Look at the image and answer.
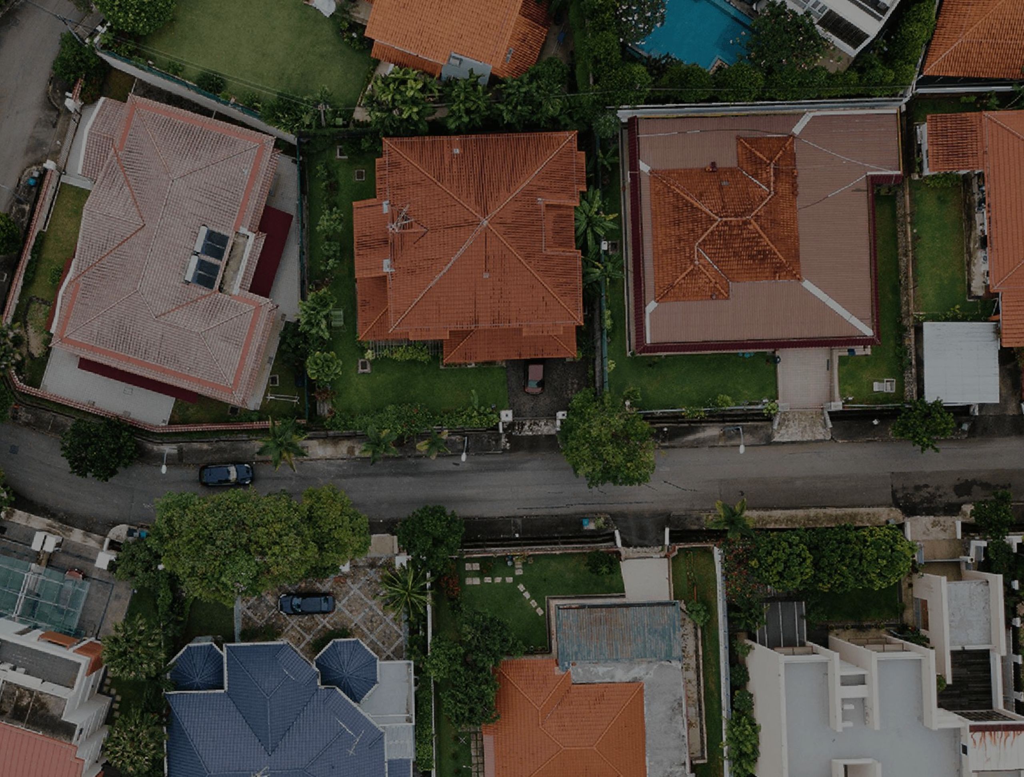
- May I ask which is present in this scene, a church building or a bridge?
bridge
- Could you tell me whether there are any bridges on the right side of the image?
Yes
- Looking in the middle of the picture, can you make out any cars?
Yes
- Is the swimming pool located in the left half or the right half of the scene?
right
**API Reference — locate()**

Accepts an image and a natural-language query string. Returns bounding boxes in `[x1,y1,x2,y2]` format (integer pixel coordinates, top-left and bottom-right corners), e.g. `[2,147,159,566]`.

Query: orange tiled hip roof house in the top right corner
[920,0,1024,87]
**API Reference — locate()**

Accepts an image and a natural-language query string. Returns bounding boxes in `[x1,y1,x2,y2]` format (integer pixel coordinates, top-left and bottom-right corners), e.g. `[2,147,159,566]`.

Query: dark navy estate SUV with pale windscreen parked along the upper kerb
[196,461,256,489]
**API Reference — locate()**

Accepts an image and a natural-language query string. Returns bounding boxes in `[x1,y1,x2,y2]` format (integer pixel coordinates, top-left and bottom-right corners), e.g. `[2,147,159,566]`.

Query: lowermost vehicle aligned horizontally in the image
[278,590,337,619]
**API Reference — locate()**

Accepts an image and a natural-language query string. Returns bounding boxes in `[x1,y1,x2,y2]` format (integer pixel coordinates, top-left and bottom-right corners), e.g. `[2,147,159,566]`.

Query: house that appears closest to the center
[353,129,586,366]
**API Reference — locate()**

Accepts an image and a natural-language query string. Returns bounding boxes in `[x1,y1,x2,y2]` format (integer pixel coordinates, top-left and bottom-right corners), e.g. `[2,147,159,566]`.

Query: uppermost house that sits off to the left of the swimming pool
[365,0,553,108]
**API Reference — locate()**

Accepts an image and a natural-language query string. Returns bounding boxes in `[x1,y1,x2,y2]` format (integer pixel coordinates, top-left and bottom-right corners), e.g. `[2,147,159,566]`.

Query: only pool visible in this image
[634,0,762,70]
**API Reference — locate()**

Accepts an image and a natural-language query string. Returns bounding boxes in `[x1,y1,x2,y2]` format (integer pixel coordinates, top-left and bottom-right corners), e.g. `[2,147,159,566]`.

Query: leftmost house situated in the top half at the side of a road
[46,92,294,410]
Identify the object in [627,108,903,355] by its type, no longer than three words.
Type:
house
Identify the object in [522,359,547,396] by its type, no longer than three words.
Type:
car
